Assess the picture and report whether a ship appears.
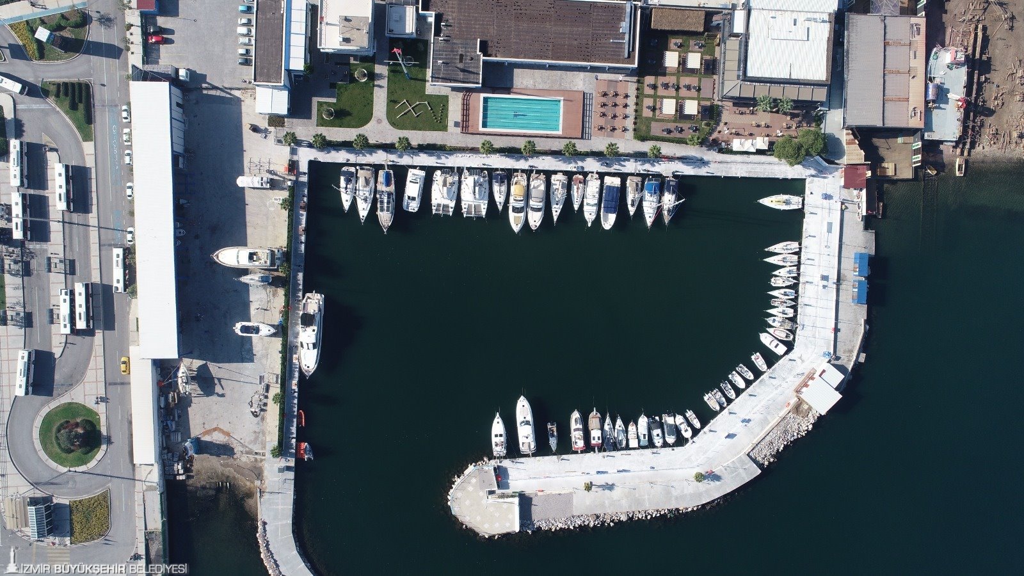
Yes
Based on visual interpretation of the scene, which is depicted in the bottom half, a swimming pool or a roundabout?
roundabout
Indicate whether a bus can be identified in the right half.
No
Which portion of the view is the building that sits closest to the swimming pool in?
top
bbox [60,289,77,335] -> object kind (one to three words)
vehicle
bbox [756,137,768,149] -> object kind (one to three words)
umbrella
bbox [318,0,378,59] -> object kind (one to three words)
building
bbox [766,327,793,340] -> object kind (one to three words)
boat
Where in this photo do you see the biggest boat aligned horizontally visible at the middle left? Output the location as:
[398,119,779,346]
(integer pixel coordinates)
[210,245,282,270]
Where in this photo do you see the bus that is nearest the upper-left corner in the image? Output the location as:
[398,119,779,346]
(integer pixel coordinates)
[0,71,32,95]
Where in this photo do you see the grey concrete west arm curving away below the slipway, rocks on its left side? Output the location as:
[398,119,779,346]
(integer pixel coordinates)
[258,455,316,576]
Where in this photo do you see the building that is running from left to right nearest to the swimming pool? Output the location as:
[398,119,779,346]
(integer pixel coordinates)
[420,0,641,90]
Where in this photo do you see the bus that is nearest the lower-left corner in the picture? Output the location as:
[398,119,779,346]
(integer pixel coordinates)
[15,349,36,395]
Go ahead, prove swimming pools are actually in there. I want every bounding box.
[460,89,584,139]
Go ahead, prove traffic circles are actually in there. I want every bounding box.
[40,402,101,468]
